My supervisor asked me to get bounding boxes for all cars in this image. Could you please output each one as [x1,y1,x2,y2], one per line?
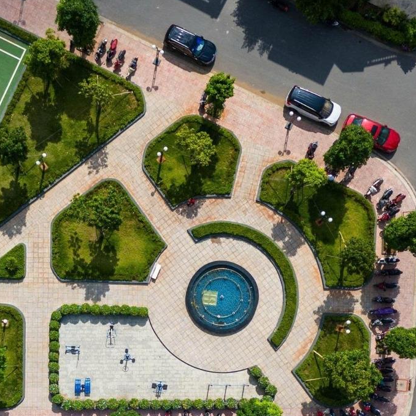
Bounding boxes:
[160,23,218,68]
[341,110,401,154]
[283,83,341,128]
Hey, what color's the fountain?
blue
